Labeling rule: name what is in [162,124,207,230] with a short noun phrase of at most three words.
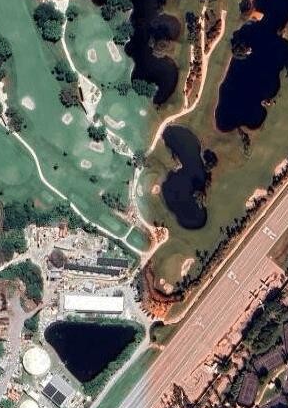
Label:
pond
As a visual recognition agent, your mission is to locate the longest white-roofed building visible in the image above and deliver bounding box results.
[64,295,123,313]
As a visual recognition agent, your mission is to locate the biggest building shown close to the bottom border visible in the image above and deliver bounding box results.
[41,374,76,404]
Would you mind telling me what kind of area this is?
golf course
